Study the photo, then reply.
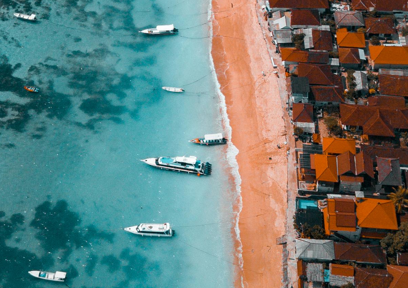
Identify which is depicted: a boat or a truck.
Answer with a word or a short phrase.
boat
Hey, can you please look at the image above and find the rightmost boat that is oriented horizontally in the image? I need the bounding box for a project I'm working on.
[187,133,230,145]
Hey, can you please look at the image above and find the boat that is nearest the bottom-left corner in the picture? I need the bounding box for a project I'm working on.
[27,269,68,281]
